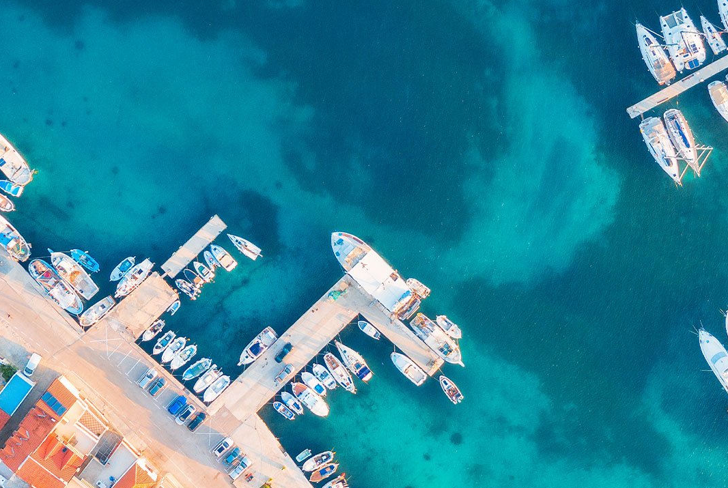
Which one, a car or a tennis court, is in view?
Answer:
car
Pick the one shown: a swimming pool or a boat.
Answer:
boat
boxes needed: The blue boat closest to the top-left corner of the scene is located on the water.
[0,179,25,197]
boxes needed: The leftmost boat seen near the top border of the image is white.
[624,9,681,93]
